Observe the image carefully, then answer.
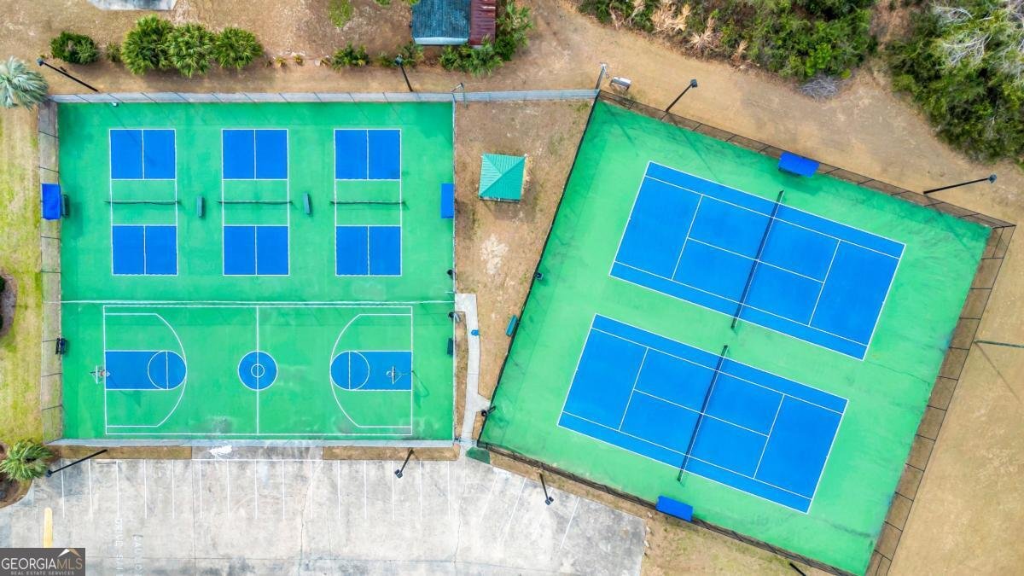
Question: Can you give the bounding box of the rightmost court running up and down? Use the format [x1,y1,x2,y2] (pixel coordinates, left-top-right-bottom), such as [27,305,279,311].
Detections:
[335,129,402,276]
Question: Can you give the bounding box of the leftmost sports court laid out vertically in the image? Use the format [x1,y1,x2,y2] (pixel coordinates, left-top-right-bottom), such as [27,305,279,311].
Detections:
[110,129,177,275]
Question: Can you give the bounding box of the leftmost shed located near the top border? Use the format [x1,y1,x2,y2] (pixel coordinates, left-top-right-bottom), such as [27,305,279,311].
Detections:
[412,0,496,49]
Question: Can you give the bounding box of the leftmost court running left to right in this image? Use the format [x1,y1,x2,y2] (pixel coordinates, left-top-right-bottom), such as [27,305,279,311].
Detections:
[103,306,412,435]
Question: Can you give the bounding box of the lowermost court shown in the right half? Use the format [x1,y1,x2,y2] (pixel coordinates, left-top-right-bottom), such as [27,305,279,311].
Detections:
[557,313,849,514]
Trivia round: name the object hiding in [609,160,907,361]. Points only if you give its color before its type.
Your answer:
blue tennis court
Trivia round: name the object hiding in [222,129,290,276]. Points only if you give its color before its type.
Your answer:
blue sports court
